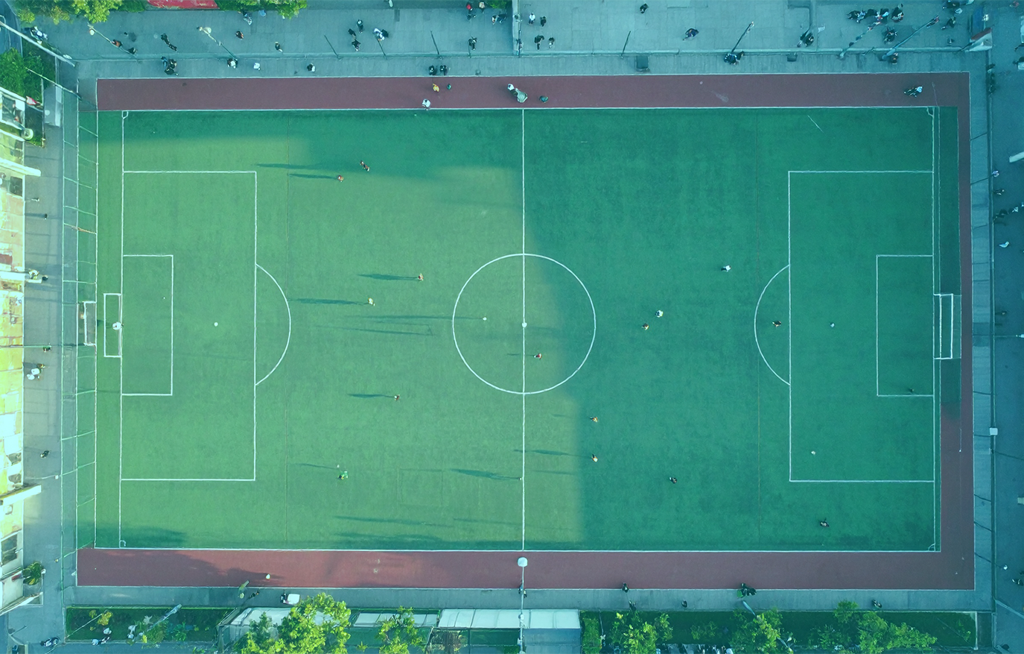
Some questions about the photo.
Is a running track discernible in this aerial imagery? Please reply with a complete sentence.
Yes, I can see a running track in this picture.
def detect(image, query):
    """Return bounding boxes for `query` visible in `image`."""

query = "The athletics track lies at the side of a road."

[77,72,975,590]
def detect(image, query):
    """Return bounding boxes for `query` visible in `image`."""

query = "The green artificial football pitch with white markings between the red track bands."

[76,84,962,585]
